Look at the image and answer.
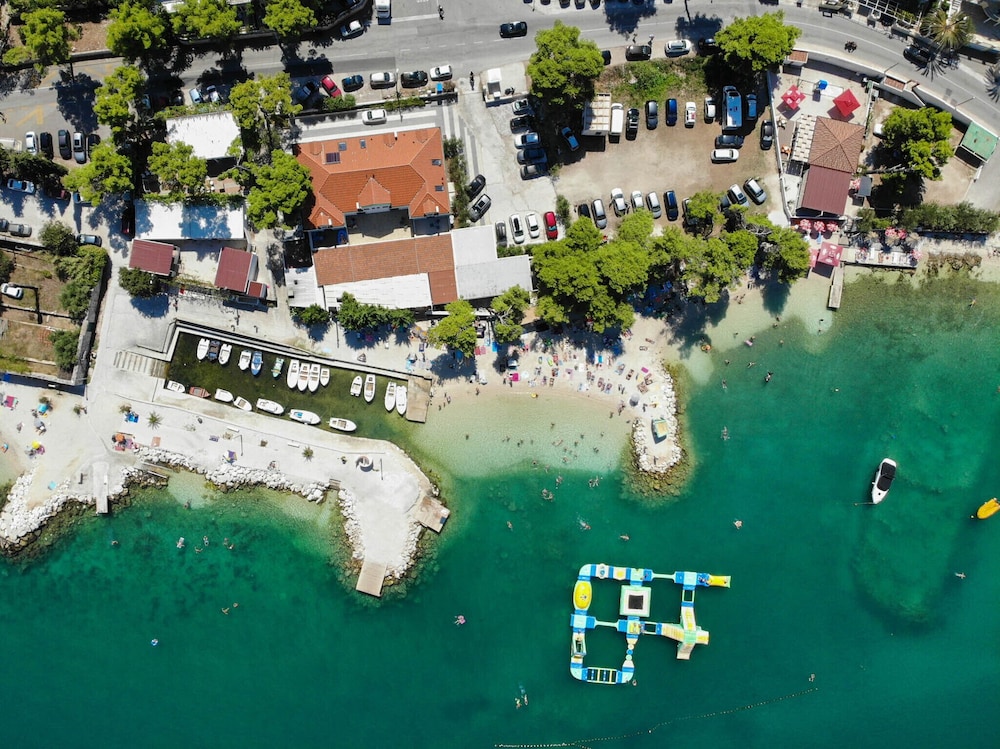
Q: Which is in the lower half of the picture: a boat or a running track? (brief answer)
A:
boat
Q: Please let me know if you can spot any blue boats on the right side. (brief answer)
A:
No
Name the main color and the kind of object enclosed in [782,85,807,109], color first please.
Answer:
red umbrella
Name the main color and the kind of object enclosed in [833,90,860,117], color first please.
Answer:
red umbrella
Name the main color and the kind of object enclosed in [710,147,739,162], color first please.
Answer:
white car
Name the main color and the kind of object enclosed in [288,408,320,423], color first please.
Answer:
white boat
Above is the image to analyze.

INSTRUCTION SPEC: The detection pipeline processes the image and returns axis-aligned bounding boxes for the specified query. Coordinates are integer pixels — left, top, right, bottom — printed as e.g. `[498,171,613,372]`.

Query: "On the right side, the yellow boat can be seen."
[977,493,1000,519]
